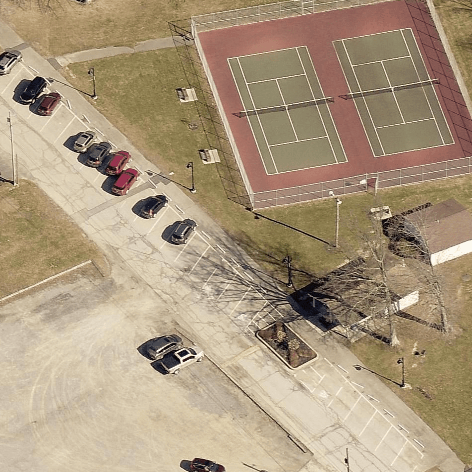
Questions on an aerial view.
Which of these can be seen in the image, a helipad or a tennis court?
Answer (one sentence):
Looking from above, you can make out a tennis court.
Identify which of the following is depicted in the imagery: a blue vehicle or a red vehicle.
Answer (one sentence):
Visible in the photo is a red vehicle.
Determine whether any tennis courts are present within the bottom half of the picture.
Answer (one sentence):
No, there is no tennis court within the bottom half of the picture.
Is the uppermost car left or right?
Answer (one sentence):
It is on the left.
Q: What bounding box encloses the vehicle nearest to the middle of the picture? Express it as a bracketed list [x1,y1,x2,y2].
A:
[169,222,196,248]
